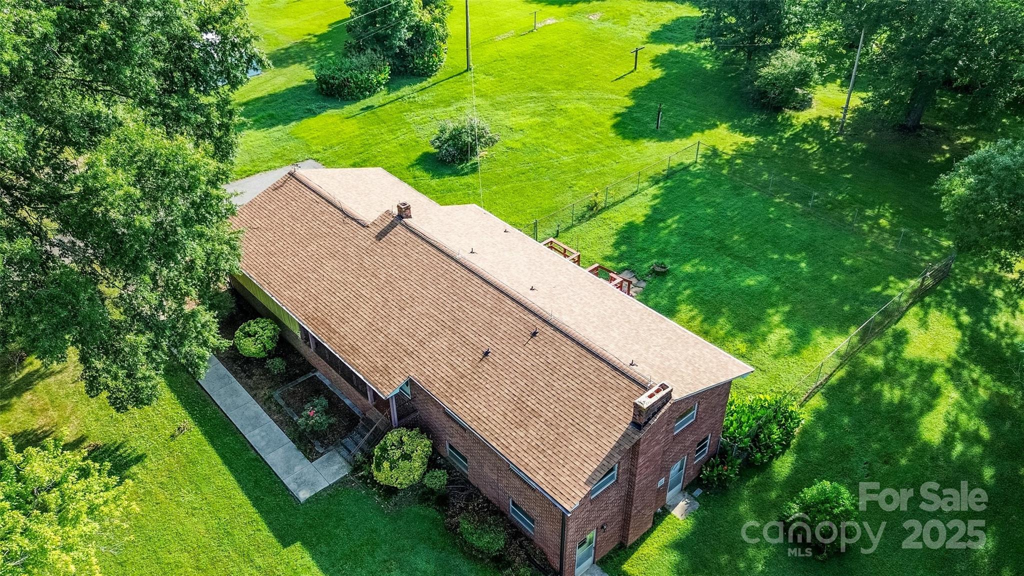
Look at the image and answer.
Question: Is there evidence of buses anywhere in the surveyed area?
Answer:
No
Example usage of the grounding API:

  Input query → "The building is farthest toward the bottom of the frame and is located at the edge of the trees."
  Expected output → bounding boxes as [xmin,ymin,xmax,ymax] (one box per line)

[204,167,754,576]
